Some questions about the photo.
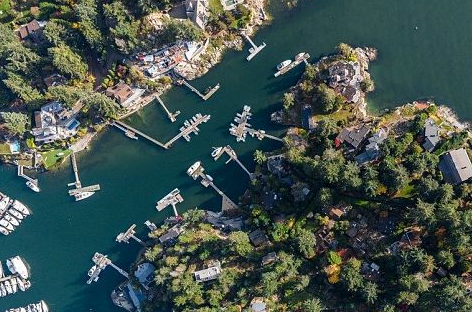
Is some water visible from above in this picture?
Yes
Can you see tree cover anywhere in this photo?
Yes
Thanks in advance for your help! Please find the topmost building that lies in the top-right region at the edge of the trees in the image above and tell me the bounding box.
[329,59,362,104]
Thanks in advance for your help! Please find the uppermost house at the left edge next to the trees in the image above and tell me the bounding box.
[17,16,45,42]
